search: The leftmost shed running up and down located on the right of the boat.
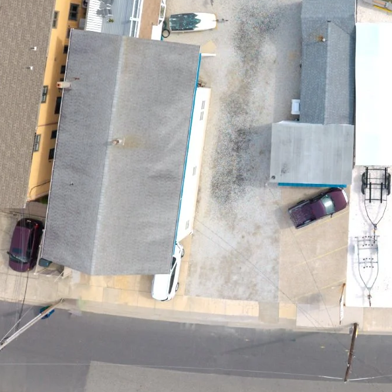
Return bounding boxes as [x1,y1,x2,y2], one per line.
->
[270,0,357,191]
